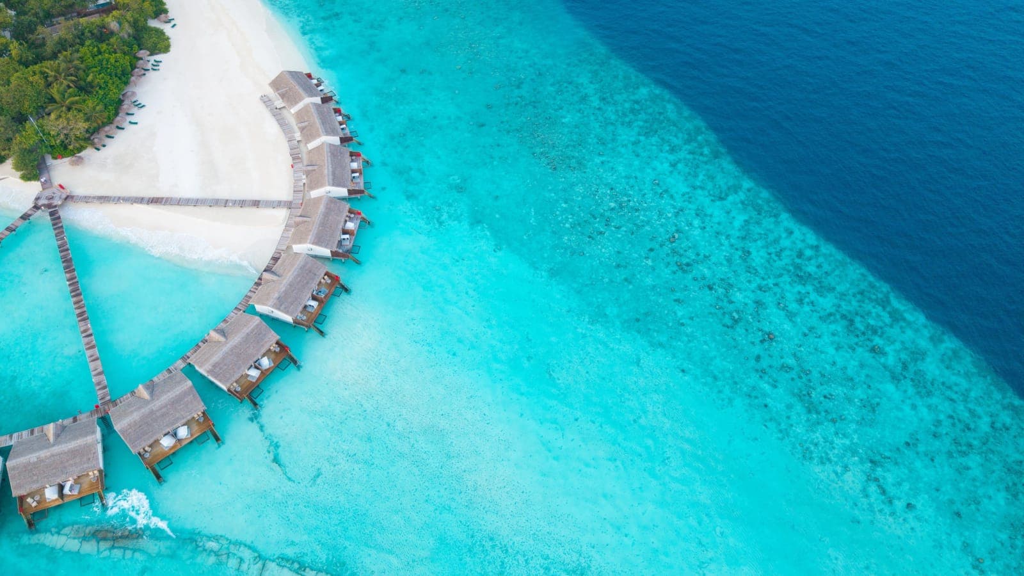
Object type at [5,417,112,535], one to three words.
house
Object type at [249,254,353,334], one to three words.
house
